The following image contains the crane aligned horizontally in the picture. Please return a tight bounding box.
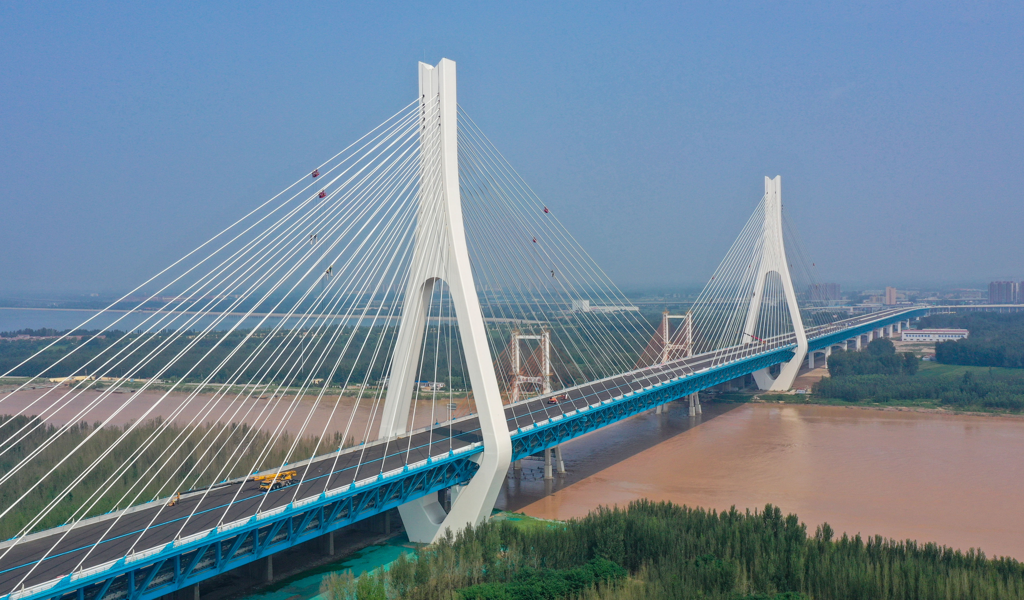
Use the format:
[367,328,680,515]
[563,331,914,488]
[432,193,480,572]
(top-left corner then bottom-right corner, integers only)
[174,466,299,502]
